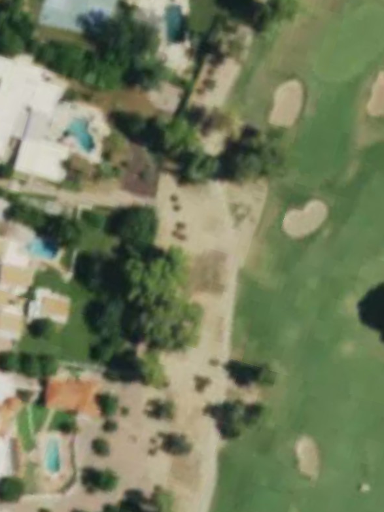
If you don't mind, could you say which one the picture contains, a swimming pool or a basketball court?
swimming pool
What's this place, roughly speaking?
golf course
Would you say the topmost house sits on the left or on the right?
left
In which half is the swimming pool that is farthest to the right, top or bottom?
top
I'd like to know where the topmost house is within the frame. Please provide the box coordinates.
[0,55,69,182]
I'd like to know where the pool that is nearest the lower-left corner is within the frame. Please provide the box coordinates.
[45,435,61,473]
